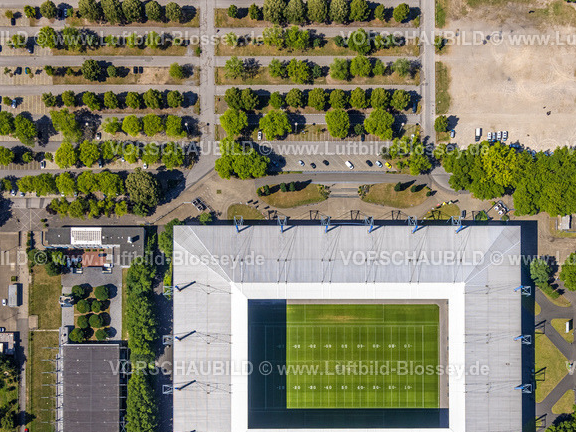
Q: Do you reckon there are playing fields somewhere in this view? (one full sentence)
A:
Yes, there's a playing field here.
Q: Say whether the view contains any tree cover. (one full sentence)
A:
Yes, some tree cover is visible.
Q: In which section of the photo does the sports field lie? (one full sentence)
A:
The sports field is in the bottom part of the image.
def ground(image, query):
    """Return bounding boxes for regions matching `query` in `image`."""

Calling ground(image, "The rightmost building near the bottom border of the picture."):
[41,344,128,432]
